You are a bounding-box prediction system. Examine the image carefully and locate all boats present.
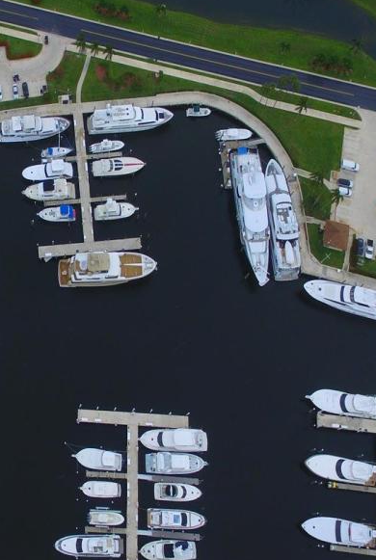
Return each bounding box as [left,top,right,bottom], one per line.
[306,391,376,418]
[0,116,71,146]
[41,135,73,159]
[266,157,299,289]
[56,253,163,289]
[94,202,141,222]
[215,130,252,142]
[69,447,122,471]
[87,142,124,154]
[35,204,76,222]
[86,106,174,135]
[183,108,211,119]
[91,152,146,178]
[303,514,376,548]
[137,540,198,560]
[305,282,376,318]
[143,509,207,530]
[55,532,124,557]
[19,182,76,202]
[306,452,376,488]
[79,481,121,498]
[154,482,202,501]
[145,452,208,474]
[23,157,75,182]
[86,508,124,525]
[137,427,209,452]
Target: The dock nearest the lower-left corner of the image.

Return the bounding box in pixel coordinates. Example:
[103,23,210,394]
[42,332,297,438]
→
[78,409,200,560]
